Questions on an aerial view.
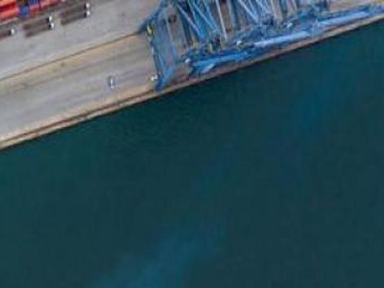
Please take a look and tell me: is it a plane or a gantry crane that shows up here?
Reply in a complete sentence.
Visible in the photo is a gantry crane.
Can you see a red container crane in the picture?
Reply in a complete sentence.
No, there appears to be no red container crane in this shot.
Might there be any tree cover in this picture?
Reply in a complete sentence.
No, the scene doesn't show any tree cover.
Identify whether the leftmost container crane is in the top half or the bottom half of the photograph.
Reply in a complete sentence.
It is in the top half that the leftmost container crane appears.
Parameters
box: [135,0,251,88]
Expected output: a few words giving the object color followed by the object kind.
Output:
blue container crane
